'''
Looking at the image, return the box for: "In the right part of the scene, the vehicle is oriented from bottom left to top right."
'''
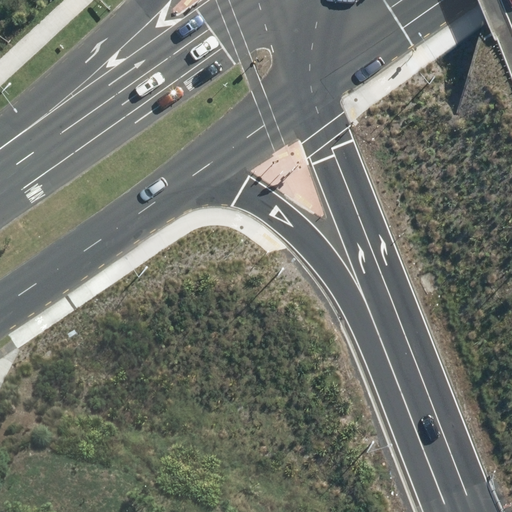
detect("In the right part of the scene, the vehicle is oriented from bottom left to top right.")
[354,57,384,82]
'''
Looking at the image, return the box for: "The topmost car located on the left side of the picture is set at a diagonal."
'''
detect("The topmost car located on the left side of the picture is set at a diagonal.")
[176,14,206,38]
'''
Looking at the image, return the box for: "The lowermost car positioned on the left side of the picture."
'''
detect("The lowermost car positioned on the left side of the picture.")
[140,178,167,201]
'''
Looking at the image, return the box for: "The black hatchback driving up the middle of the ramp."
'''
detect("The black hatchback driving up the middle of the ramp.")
[422,414,440,442]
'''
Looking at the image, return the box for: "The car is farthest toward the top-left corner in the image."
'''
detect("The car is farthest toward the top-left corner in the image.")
[134,72,164,96]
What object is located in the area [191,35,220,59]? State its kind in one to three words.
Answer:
car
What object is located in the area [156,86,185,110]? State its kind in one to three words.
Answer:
car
